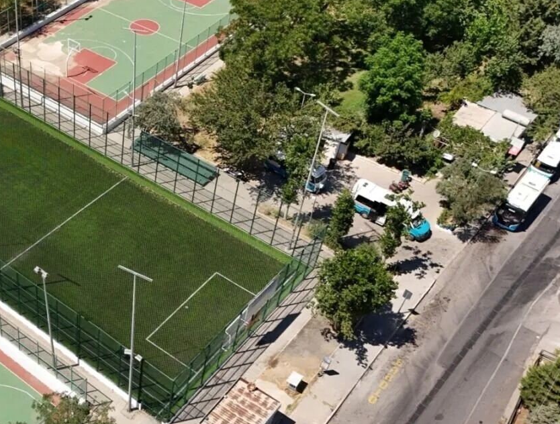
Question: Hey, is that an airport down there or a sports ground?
sports ground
